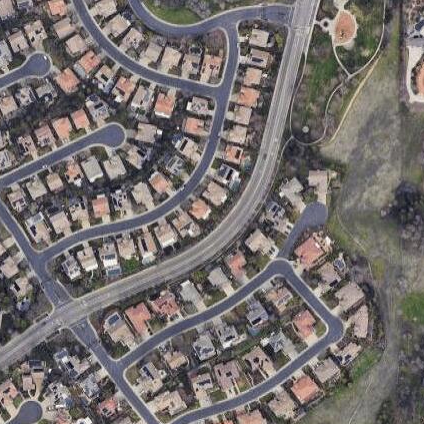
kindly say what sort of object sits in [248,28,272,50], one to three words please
house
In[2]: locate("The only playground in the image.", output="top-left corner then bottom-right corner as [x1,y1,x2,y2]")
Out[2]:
[332,6,357,47]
